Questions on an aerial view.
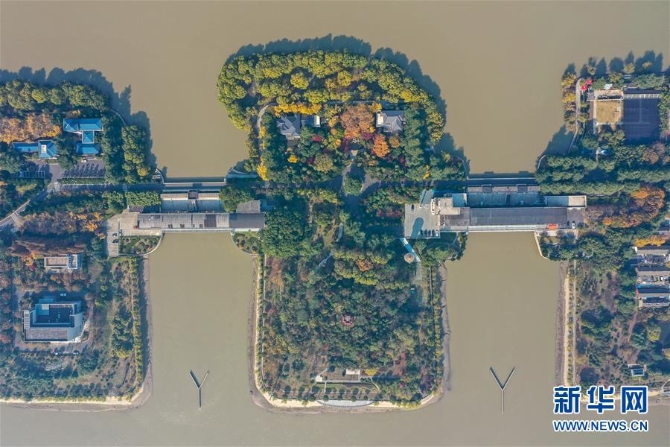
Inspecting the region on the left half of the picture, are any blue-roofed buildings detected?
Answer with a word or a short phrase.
Yes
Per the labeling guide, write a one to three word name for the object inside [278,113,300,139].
house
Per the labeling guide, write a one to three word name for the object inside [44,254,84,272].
building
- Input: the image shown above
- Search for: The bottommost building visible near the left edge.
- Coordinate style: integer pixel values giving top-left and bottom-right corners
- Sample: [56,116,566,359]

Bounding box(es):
[24,298,86,342]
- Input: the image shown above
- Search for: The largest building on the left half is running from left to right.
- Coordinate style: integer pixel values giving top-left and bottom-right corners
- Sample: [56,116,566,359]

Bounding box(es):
[129,200,266,233]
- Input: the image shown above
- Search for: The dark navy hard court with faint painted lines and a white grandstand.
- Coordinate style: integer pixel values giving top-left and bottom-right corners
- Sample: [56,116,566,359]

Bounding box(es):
[620,86,662,141]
